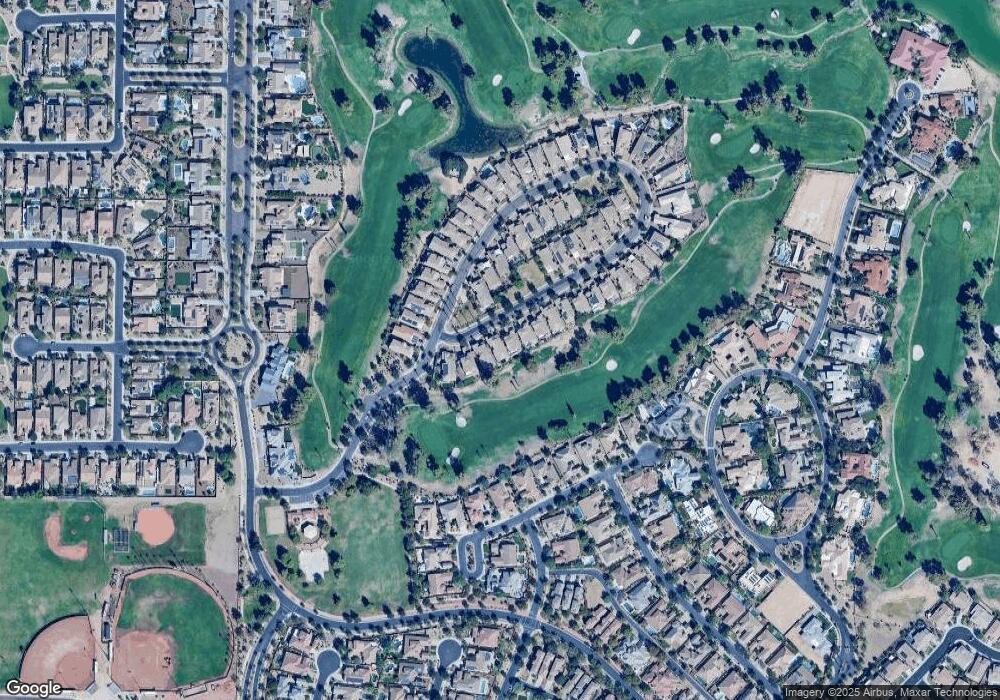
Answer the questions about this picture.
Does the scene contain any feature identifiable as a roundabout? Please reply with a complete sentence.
Yes, the frame does contain a roundabout.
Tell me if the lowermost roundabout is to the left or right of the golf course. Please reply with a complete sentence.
Looking at the photo, the lowermost roundabout lies to the left of the golf course.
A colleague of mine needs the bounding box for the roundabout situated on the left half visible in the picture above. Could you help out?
[210,323,265,376]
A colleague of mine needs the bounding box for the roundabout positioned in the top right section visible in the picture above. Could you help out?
[892,77,926,111]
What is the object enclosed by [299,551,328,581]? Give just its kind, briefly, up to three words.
basketball court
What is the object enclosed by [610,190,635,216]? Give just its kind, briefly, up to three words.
house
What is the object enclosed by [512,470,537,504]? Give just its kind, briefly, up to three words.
house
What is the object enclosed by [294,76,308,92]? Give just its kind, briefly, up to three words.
swimming pool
